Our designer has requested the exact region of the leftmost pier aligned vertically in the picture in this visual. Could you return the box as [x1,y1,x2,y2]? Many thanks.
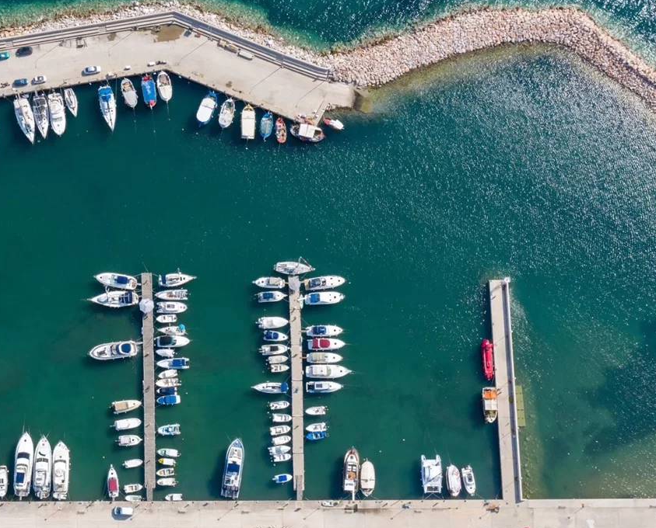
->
[141,273,157,502]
